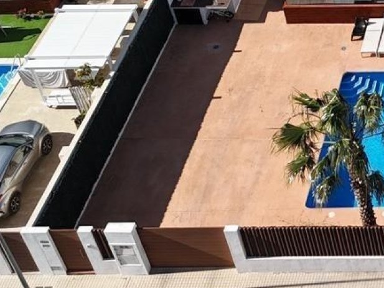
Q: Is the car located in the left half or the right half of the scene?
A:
left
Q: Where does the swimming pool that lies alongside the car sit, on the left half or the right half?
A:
left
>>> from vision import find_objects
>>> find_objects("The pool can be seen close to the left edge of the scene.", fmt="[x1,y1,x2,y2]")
[0,57,21,107]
